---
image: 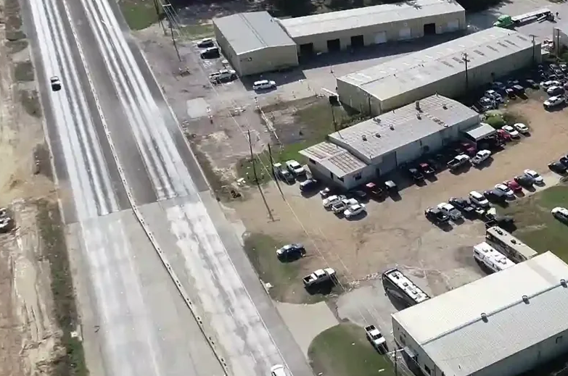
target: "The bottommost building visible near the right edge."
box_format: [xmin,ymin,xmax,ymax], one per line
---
[395,248,568,376]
